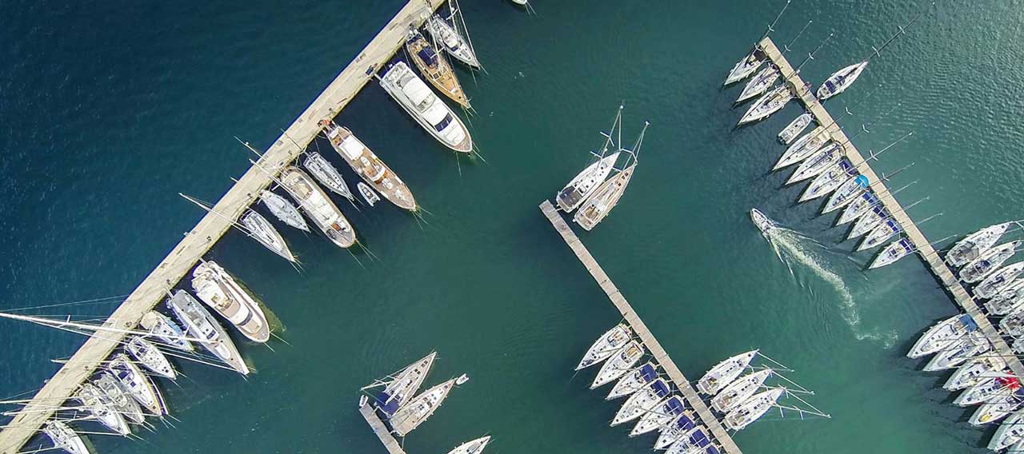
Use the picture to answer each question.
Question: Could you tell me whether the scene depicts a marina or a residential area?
marina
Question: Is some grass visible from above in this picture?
No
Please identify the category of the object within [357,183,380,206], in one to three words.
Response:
boat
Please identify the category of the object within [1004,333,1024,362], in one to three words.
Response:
boat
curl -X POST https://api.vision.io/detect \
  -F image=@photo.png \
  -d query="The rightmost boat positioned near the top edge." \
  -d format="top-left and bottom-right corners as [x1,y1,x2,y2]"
[805,0,933,109]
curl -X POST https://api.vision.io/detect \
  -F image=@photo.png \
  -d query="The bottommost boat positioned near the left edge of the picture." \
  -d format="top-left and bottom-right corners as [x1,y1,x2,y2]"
[2,413,93,454]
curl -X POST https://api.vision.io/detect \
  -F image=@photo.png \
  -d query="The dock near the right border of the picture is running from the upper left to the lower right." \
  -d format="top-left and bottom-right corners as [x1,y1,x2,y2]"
[761,37,1024,385]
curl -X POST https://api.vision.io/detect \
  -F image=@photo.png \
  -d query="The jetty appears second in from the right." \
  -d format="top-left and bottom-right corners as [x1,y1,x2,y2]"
[539,199,742,454]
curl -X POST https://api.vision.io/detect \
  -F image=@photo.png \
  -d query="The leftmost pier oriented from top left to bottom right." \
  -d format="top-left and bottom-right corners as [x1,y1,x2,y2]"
[359,404,405,454]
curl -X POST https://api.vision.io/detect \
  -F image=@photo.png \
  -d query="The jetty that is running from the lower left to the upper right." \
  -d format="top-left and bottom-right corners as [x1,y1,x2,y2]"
[0,0,447,454]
